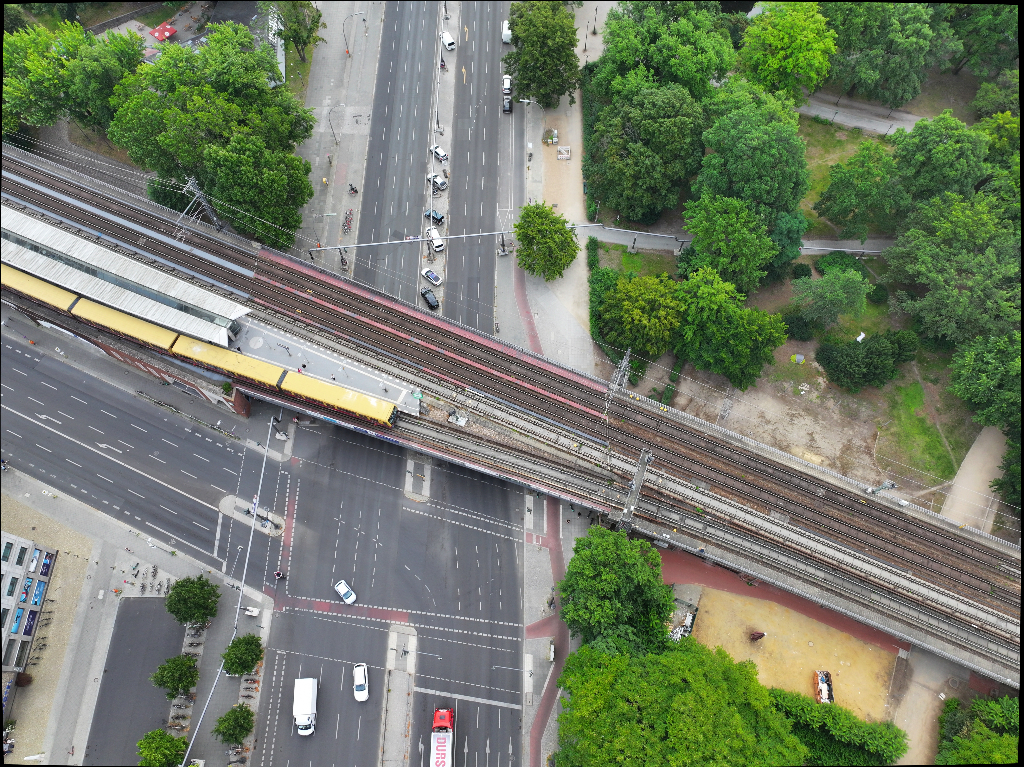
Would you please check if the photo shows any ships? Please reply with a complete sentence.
No, no ship is visible in the scene.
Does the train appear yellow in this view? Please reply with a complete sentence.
Yes, the train is indeed yellow.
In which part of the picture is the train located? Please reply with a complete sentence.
The train is in the left part of the image.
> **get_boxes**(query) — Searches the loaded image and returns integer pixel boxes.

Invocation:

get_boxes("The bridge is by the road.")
[0,146,1024,690]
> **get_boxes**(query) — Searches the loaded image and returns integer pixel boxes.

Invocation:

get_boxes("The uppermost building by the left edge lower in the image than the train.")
[0,532,57,669]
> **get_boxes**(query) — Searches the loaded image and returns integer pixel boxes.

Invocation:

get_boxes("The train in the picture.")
[0,264,398,429]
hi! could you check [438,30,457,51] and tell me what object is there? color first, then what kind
white vehicle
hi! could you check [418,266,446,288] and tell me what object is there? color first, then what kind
white car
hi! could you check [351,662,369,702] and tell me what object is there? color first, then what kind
white car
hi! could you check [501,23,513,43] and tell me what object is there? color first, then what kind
white vehicle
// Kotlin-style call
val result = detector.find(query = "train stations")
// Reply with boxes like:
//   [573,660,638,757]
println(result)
[0,205,420,418]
